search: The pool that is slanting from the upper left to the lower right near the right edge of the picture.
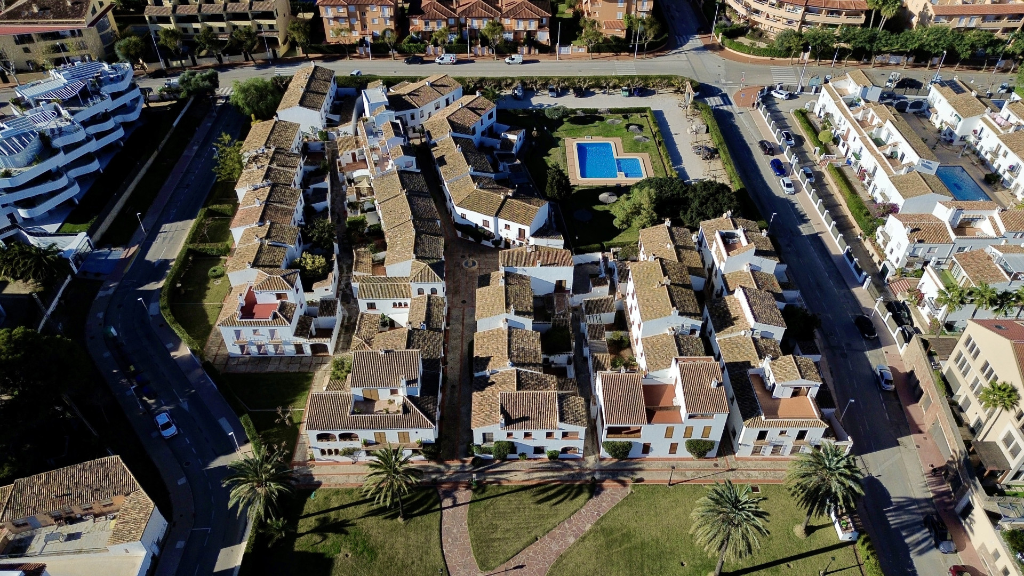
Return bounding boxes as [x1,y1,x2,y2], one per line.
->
[939,165,990,199]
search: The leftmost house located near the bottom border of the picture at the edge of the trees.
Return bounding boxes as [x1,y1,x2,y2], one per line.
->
[0,454,174,576]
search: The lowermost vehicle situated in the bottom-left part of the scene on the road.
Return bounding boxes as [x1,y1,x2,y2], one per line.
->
[149,406,178,437]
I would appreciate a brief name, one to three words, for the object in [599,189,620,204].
umbrella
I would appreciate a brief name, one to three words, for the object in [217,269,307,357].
house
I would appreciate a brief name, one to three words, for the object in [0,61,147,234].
building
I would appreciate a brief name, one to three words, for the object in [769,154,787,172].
car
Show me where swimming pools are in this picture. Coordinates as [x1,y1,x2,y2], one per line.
[939,165,990,199]
[576,140,643,179]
